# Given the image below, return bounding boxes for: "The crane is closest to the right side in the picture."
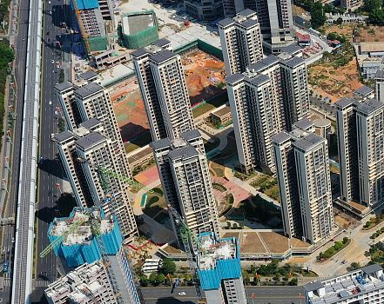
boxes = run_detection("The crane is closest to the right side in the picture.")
[166,179,204,296]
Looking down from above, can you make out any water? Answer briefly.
No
